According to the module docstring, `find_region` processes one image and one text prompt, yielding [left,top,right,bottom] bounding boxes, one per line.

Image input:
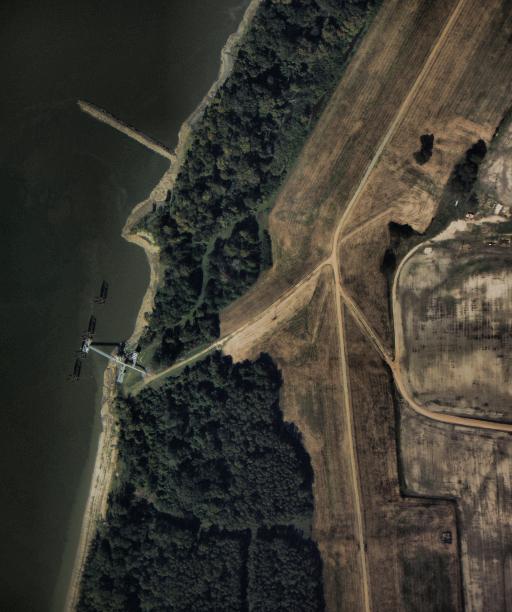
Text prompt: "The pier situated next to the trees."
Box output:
[75,98,180,161]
